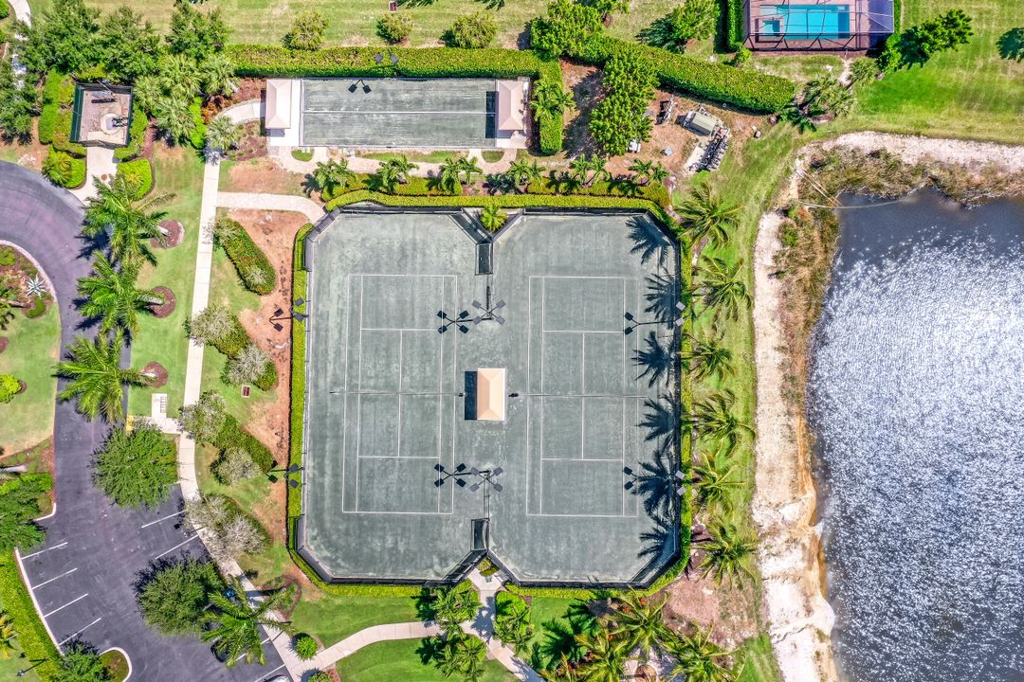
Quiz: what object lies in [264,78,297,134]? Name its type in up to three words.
building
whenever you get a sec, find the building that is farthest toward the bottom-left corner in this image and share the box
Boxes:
[476,368,506,421]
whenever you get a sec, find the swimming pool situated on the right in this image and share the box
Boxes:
[743,0,878,47]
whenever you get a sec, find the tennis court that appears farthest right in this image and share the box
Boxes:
[488,211,680,584]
